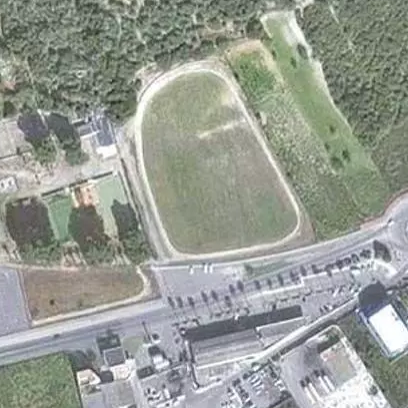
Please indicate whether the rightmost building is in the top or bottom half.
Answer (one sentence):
The bottom half of the photo is where the rightmost building is.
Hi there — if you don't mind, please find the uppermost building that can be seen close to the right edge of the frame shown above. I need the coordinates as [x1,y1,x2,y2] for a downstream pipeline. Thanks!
[368,304,408,356]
